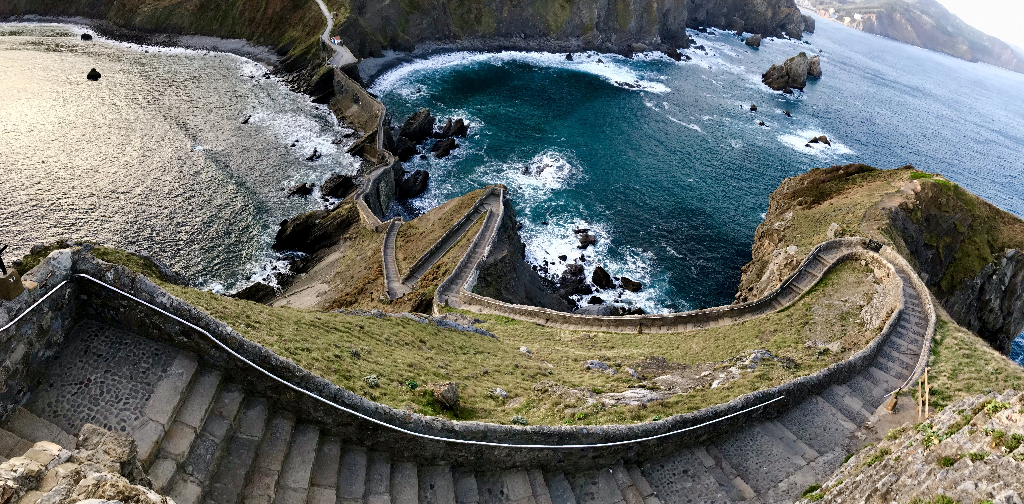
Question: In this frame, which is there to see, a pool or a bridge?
bridge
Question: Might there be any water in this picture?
Yes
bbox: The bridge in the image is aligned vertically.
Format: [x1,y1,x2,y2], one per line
[337,65,398,227]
